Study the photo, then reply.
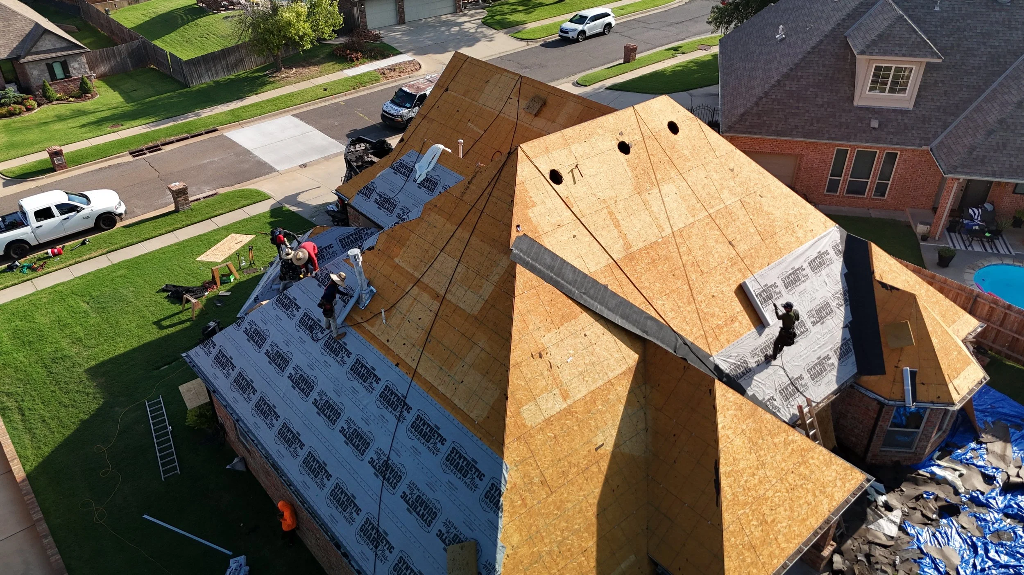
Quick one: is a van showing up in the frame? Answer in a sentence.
Yes, this view includes a van.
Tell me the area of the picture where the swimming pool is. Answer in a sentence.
You can find the swimming pool in the right area of the picture.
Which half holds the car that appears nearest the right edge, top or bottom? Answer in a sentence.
Seen from above, the car that appears nearest the right edge lies in the top half of the view.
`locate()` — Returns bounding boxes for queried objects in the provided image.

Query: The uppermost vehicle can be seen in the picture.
[557,4,618,40]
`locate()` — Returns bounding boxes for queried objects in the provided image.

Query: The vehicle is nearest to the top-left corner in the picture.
[0,181,134,251]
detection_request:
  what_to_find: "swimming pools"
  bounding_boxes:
[956,254,1024,328]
